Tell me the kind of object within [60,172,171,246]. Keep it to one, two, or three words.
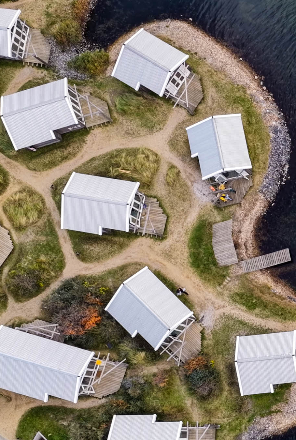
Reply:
shed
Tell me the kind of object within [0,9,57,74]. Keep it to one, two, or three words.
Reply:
shed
